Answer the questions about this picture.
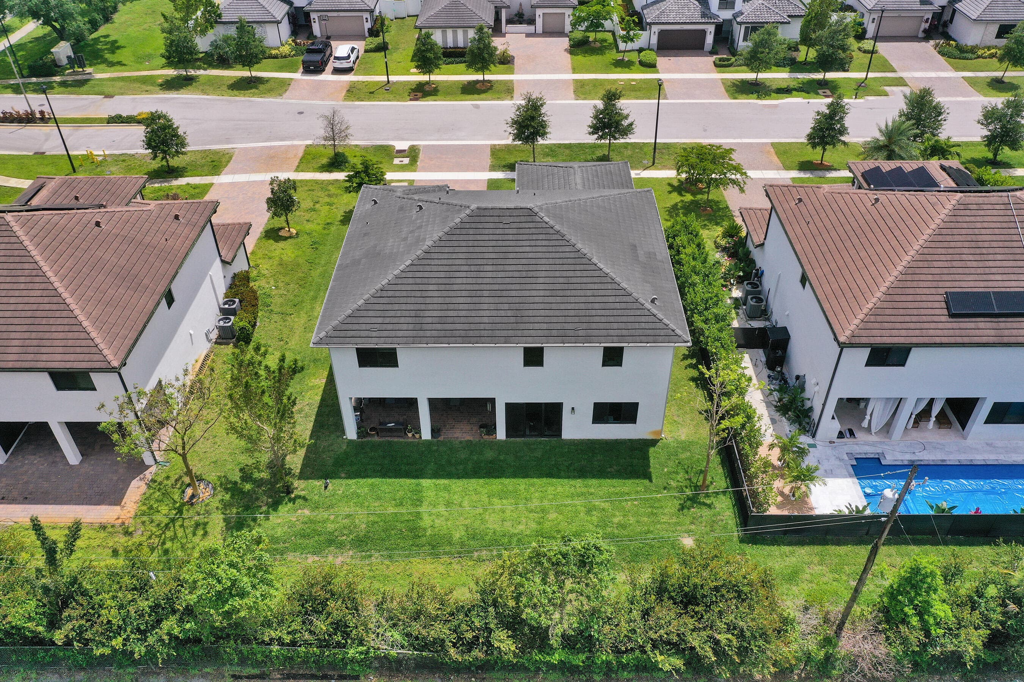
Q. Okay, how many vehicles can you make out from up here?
two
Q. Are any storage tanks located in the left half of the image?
No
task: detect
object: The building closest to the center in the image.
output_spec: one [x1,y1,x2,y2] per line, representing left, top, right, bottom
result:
[310,160,693,440]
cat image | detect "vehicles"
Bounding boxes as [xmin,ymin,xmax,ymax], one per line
[333,41,361,66]
[301,35,334,65]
